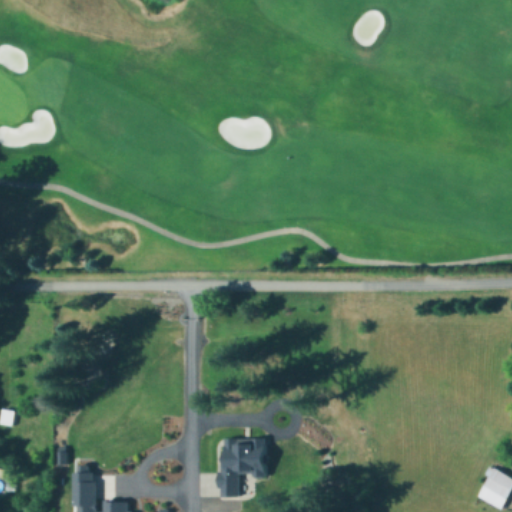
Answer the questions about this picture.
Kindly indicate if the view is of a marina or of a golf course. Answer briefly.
golf course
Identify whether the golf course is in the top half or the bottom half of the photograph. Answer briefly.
top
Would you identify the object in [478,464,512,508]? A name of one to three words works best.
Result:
barn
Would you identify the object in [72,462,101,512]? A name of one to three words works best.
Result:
house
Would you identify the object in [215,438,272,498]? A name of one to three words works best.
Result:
house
